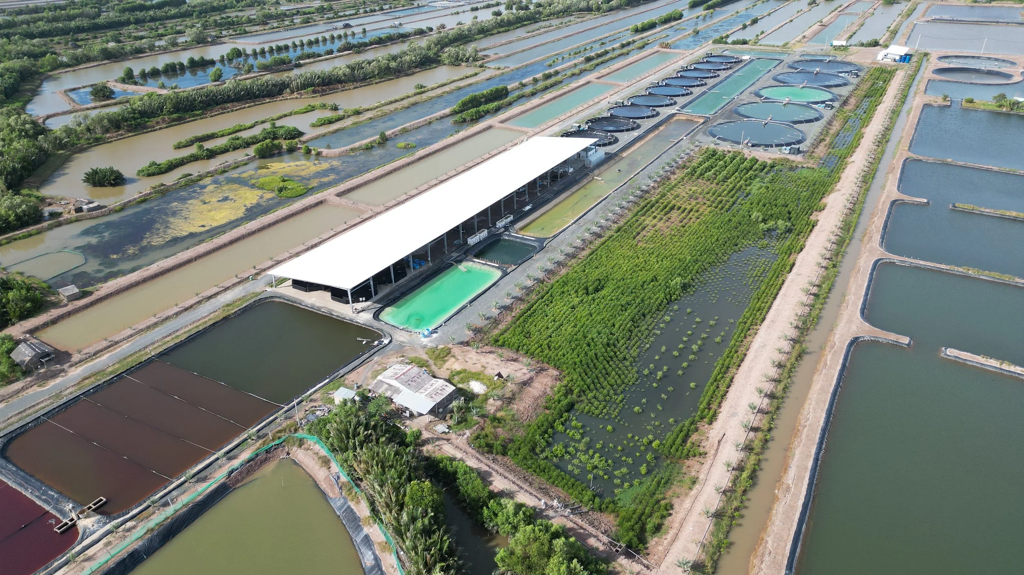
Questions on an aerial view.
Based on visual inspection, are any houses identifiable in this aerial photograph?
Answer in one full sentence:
Yes, this view includes a house.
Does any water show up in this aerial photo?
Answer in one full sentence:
Yes, some water is visible.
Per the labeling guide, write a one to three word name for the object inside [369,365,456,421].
house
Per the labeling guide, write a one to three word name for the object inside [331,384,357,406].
shed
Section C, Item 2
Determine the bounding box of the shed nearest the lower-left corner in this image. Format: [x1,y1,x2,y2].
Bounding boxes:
[8,344,59,377]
